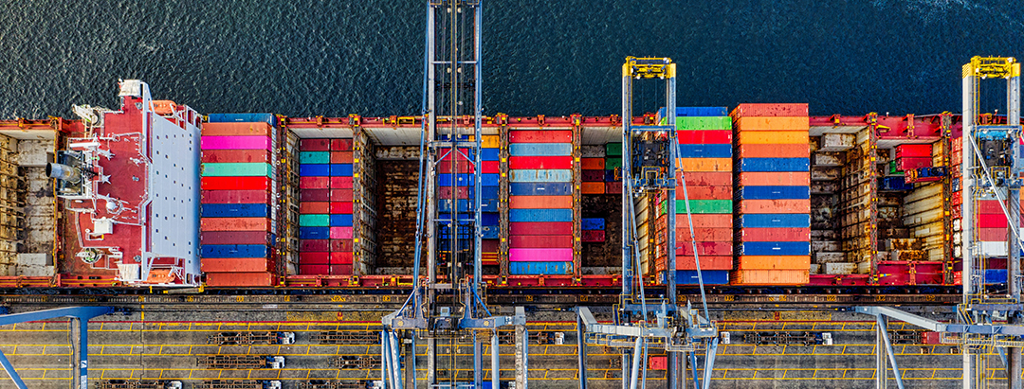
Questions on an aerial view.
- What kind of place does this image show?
port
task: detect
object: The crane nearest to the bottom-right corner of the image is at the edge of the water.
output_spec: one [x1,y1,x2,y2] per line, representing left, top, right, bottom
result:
[828,57,1024,389]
